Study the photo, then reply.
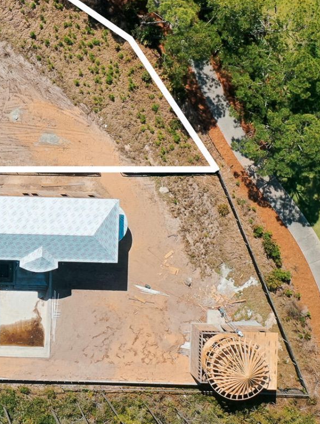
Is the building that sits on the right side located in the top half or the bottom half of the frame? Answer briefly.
bottom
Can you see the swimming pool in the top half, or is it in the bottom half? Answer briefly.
bottom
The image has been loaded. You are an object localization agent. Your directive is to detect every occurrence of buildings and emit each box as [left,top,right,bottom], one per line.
[192,310,281,401]
[0,190,128,274]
